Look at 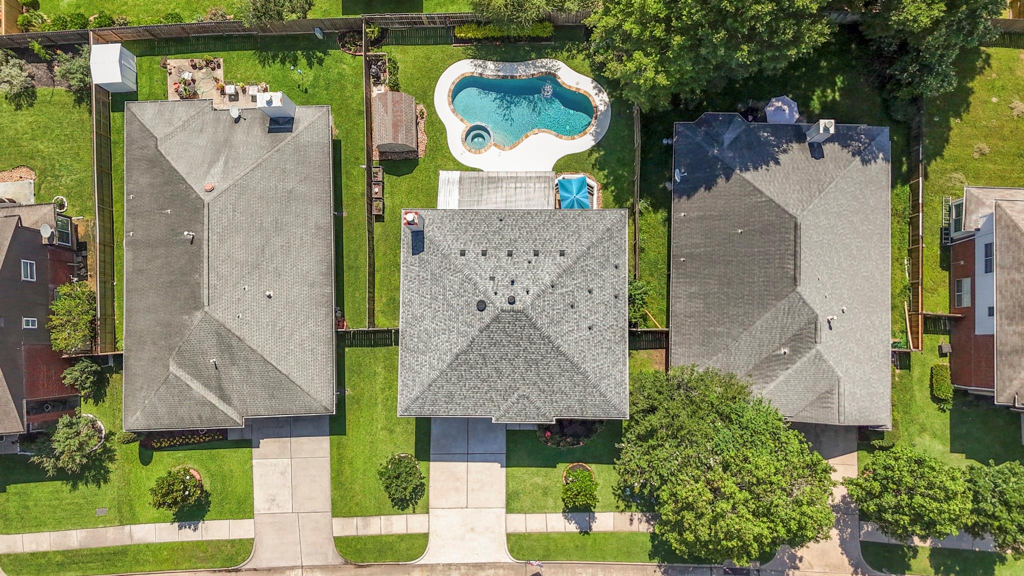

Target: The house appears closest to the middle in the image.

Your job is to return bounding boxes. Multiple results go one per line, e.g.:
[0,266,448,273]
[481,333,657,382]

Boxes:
[397,208,630,423]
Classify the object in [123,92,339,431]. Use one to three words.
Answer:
house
